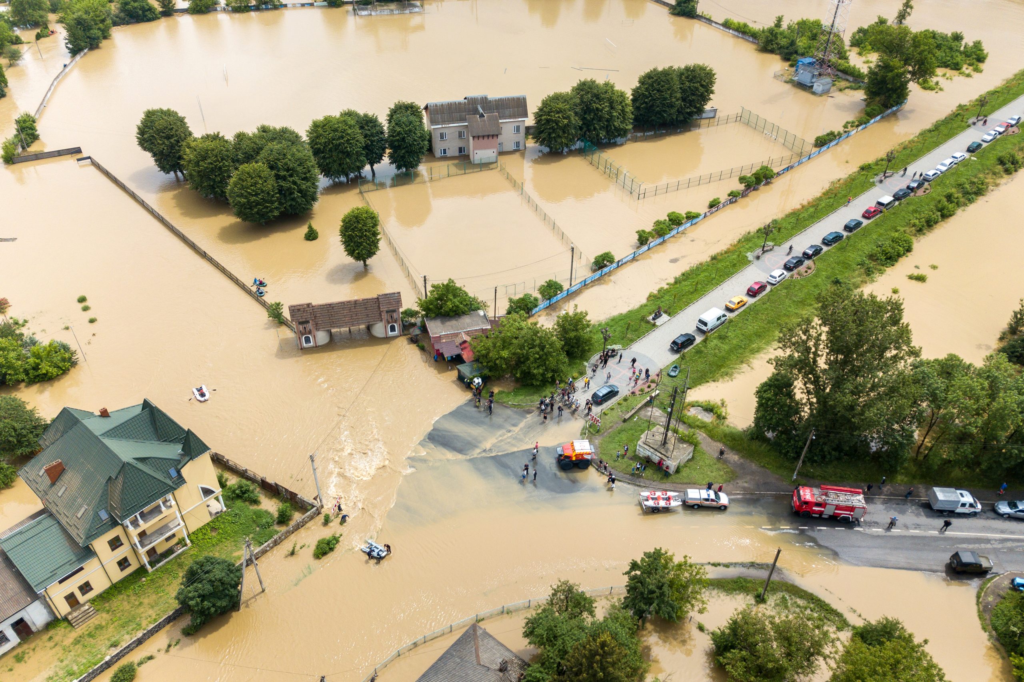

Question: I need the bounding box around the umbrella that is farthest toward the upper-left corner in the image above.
[407,326,421,344]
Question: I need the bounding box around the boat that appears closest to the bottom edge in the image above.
[357,538,393,562]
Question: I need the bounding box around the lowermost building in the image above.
[418,623,547,682]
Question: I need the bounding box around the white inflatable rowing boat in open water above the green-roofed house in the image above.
[184,383,213,401]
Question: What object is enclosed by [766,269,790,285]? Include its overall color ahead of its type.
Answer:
white car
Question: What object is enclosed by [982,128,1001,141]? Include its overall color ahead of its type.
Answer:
white vehicle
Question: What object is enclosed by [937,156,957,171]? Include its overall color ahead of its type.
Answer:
white car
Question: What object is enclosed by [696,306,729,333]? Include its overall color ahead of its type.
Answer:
white vehicle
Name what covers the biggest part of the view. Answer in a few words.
water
